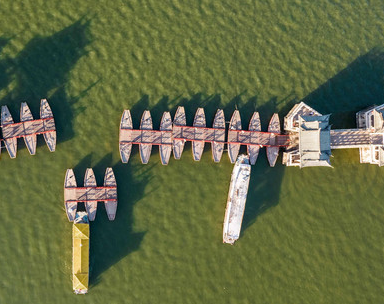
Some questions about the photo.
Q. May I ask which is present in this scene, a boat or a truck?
boat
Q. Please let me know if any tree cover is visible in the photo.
No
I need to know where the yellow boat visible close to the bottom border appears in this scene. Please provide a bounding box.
[72,212,90,295]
